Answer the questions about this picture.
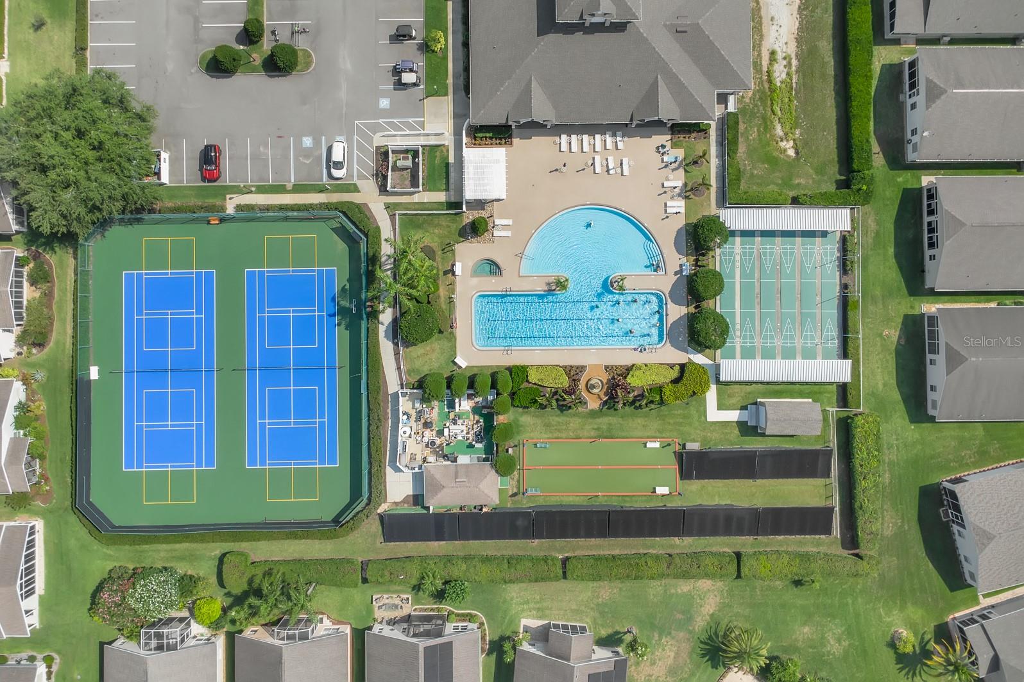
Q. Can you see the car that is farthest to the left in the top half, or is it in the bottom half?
top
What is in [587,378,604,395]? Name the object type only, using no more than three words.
fountain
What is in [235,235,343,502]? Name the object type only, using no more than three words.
tennis court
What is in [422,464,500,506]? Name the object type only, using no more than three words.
building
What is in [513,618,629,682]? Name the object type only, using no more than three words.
house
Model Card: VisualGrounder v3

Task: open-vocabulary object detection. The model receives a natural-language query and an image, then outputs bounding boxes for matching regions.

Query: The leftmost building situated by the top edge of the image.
[469,0,753,127]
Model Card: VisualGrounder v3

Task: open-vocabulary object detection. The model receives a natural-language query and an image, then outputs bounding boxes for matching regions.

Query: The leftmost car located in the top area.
[202,144,223,182]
